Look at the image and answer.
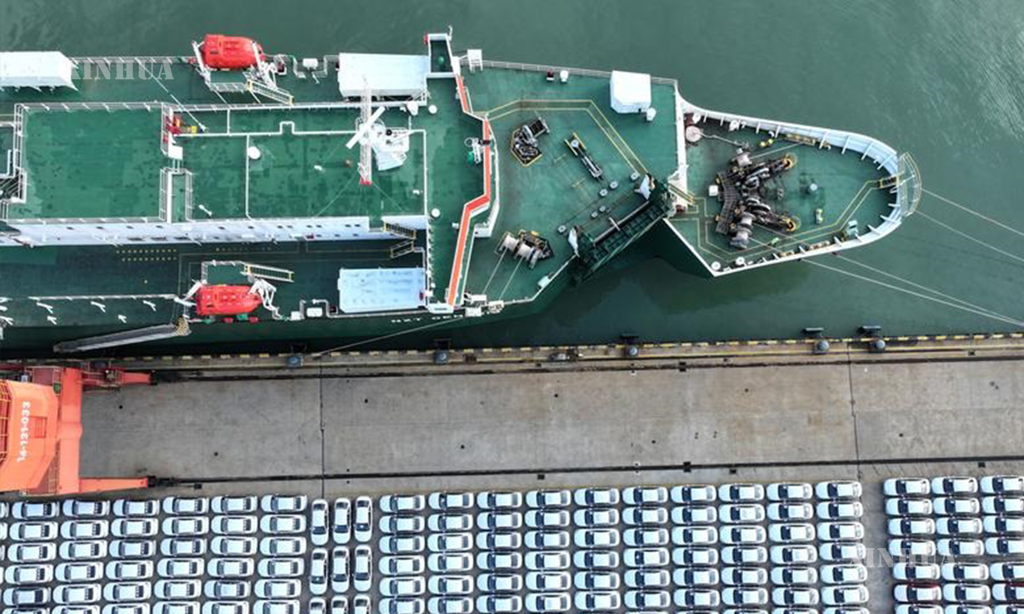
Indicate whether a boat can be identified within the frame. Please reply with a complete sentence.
Yes, a boat can be made out from above.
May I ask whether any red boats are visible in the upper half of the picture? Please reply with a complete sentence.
Yes, there is a red boat in the upper half of the picture.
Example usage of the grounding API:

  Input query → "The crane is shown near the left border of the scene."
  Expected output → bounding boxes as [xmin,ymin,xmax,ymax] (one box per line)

[0,365,162,496]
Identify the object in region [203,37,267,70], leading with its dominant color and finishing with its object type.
red boat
